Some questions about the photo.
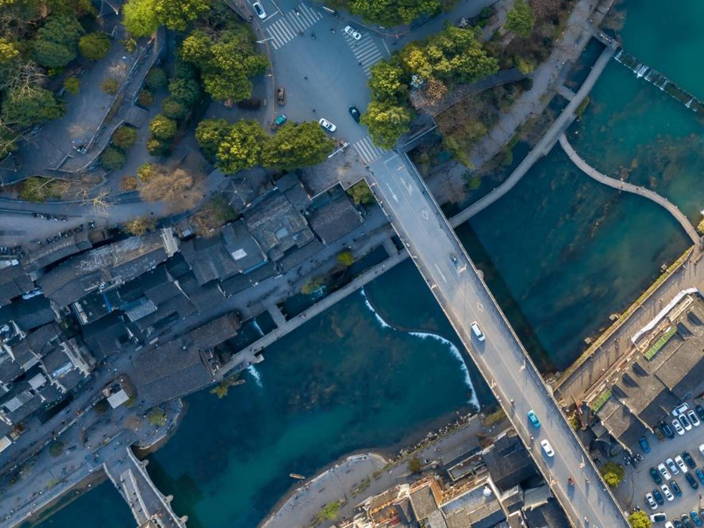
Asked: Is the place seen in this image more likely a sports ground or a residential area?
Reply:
residential area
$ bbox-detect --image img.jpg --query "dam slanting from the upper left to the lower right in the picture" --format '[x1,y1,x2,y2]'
[614,48,704,116]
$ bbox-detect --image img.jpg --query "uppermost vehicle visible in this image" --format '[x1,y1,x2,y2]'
[252,1,266,19]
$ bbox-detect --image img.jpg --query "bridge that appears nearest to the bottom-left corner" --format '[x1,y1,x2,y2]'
[102,445,193,528]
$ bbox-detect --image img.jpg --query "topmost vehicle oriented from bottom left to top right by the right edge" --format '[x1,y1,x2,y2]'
[672,402,690,421]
